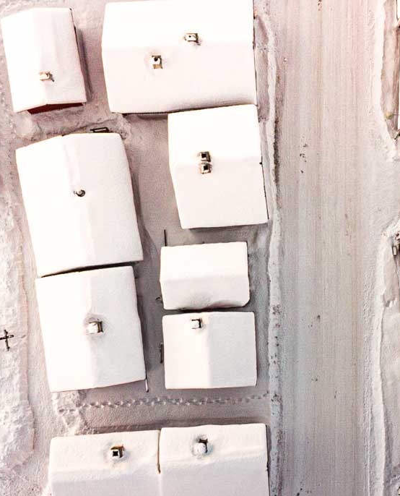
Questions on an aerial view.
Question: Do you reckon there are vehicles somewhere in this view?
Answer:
No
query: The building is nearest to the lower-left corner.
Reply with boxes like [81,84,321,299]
[50,430,166,496]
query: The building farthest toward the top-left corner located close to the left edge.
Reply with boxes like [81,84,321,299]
[2,9,87,118]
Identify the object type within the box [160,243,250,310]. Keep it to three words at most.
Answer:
building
